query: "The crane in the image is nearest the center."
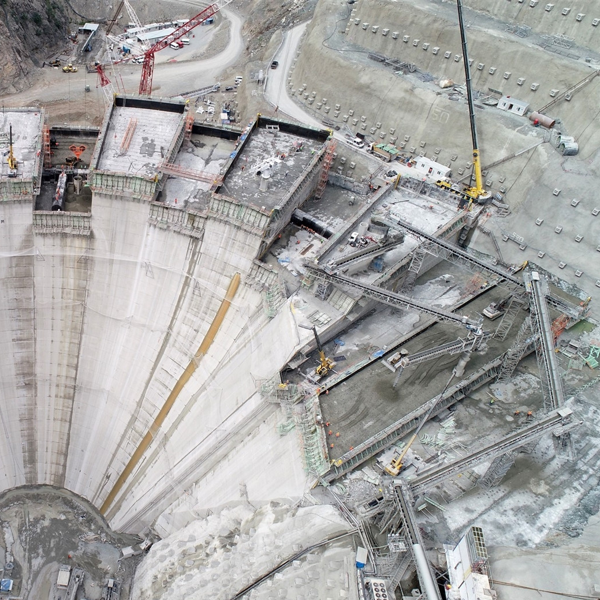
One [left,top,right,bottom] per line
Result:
[303,326,338,379]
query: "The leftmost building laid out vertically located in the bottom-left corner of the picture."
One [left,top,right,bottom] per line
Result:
[54,563,69,591]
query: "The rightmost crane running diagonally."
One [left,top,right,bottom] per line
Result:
[378,374,458,475]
